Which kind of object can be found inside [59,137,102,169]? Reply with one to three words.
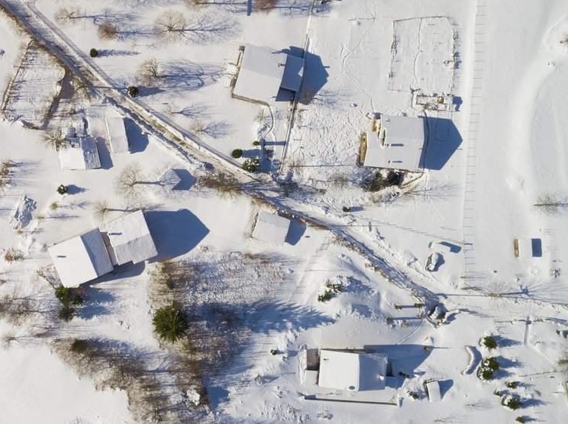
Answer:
barn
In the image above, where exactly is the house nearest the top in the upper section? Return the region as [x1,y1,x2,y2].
[233,44,305,102]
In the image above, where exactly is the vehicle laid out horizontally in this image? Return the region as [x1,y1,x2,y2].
[430,241,453,254]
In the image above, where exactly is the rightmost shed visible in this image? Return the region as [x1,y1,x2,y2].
[516,239,534,257]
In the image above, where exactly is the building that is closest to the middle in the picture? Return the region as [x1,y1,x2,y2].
[252,209,290,246]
